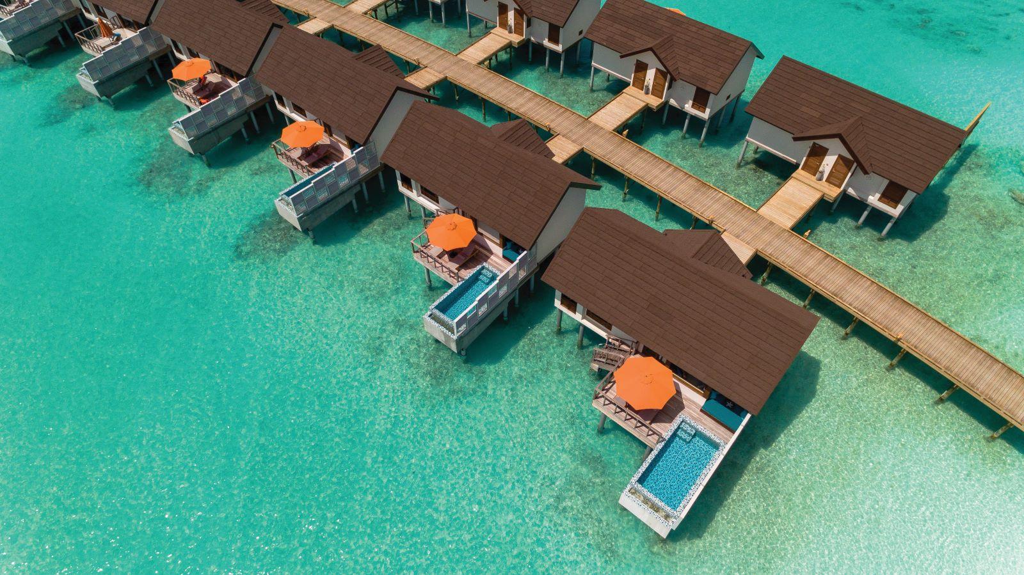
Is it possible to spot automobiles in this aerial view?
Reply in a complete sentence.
No, there's no automobile here.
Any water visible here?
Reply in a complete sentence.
Yes, the picture does contain water.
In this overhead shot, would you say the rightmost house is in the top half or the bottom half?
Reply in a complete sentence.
The rightmost house is in the top half of the image.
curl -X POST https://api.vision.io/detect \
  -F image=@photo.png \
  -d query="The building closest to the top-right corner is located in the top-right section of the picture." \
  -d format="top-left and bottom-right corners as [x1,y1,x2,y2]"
[740,54,987,241]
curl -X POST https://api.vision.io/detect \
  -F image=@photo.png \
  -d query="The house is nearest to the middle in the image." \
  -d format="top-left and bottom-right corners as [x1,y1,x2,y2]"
[379,99,603,364]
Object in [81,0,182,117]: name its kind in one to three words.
house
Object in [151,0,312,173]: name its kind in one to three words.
house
